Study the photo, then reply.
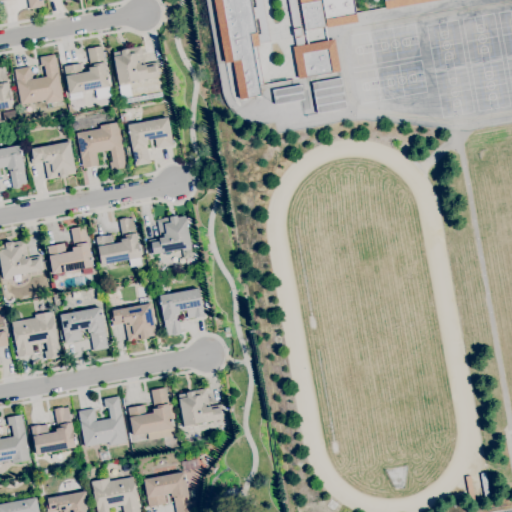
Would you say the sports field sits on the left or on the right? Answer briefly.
right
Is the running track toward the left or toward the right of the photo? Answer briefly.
right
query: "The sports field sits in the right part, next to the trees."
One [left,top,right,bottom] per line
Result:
[287,158,458,498]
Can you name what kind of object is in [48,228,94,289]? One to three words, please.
house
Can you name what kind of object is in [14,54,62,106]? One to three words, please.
house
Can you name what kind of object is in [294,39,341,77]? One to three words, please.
building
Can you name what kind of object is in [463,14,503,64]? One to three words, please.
basketball court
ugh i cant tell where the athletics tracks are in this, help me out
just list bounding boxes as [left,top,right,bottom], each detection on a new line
[268,140,483,512]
